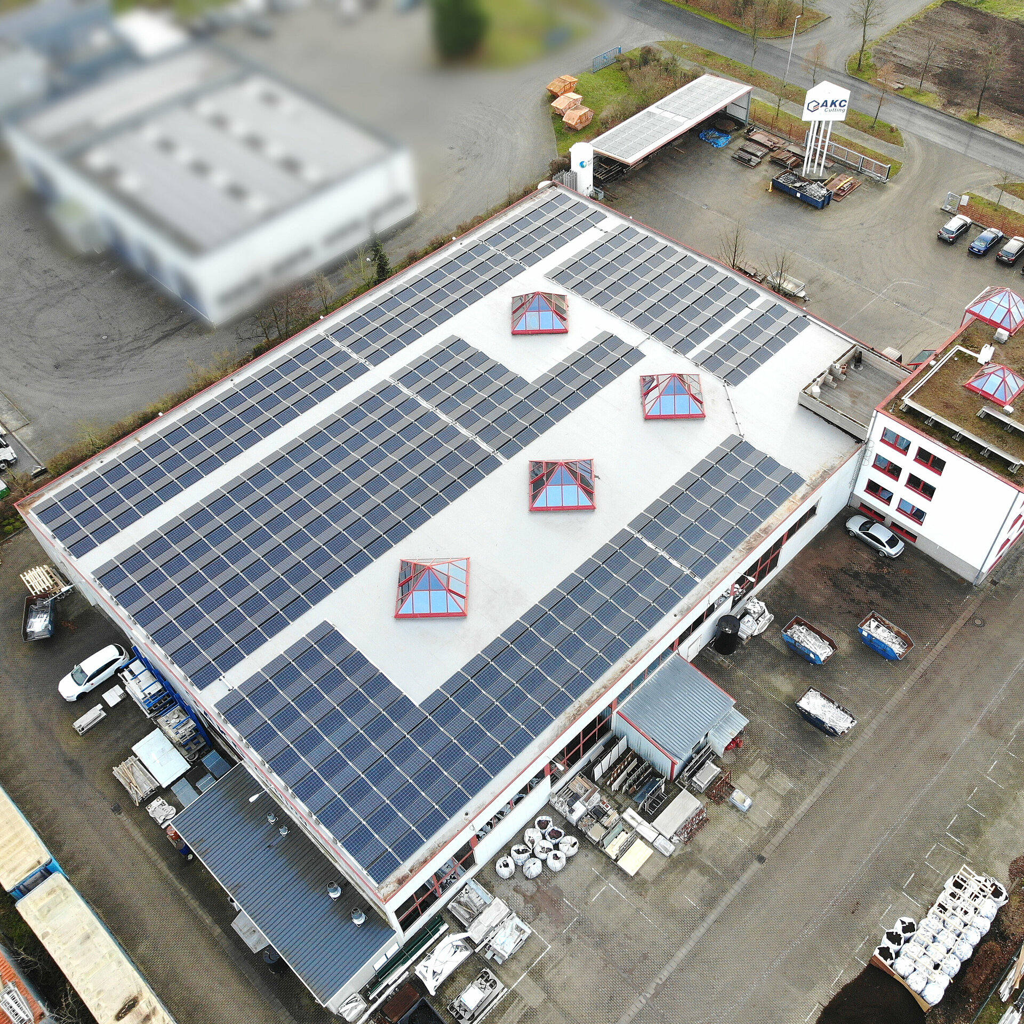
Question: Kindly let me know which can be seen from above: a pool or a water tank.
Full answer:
It is a water tank that can be seen here.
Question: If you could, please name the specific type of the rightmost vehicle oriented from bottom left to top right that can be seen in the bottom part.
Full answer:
I'd say the rightmost vehicle oriented from bottom left to top right that can be seen in the bottom part is a car.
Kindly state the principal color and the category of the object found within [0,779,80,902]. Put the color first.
white trailer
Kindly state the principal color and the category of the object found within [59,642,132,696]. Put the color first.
white car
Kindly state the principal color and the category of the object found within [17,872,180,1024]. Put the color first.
white trailer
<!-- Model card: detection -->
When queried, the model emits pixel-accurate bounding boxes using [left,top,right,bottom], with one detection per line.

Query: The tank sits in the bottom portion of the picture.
[706,608,753,663]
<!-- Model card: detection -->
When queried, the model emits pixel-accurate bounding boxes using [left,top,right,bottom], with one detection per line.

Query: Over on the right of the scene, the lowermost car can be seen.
[843,516,909,560]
